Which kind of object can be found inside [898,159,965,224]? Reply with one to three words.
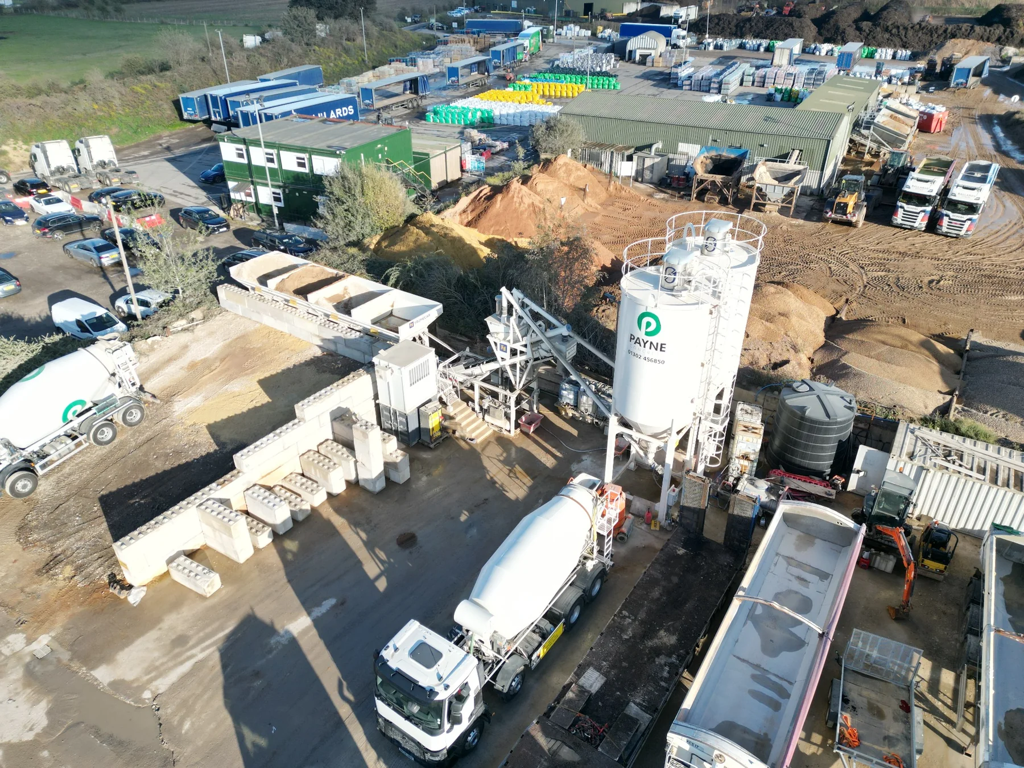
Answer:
truck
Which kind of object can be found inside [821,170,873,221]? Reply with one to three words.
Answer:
work vehicle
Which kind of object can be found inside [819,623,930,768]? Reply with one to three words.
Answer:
trailer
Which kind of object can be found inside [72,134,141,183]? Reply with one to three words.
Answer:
truck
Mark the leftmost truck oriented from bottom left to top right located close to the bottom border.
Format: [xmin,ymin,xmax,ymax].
[354,465,621,768]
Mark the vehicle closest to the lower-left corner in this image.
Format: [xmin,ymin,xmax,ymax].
[0,335,154,500]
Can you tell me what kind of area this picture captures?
industrial area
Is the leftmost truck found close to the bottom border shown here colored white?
Yes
